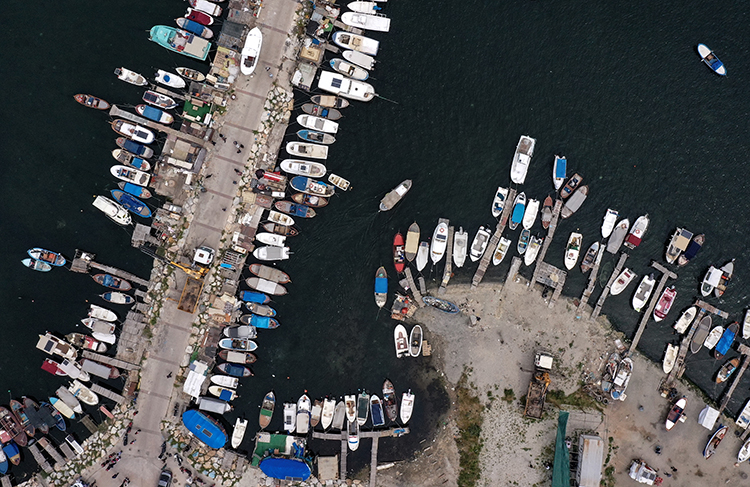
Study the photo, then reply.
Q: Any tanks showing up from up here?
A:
No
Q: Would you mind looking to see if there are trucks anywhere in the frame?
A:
Yes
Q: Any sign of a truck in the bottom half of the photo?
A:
Yes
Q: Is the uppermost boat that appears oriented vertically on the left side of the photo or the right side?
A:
left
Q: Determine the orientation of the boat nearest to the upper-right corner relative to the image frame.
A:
at an angle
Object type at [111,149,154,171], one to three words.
boat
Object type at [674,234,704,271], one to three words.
boat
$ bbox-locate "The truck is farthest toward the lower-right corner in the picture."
[519,349,565,418]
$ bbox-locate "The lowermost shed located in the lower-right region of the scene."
[570,434,612,487]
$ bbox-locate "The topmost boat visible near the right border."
[694,42,728,78]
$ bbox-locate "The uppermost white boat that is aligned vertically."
[238,26,264,77]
